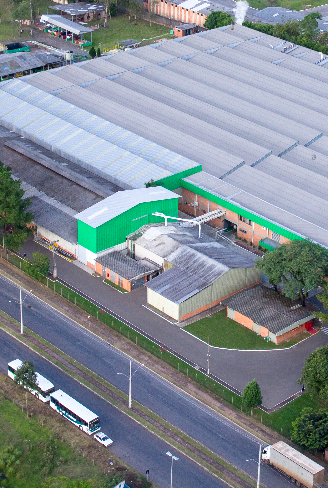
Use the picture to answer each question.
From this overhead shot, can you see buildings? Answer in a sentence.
Yes, looking at the shot, I can spot a building.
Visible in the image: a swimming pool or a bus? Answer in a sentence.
There is a bus in the scene.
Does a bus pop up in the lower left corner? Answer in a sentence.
Yes, I can see a bus in the lower left corner.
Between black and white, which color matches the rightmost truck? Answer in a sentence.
From above, the rightmost truck appears white.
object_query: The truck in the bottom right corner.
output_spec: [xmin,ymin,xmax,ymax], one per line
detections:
[262,442,324,488]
